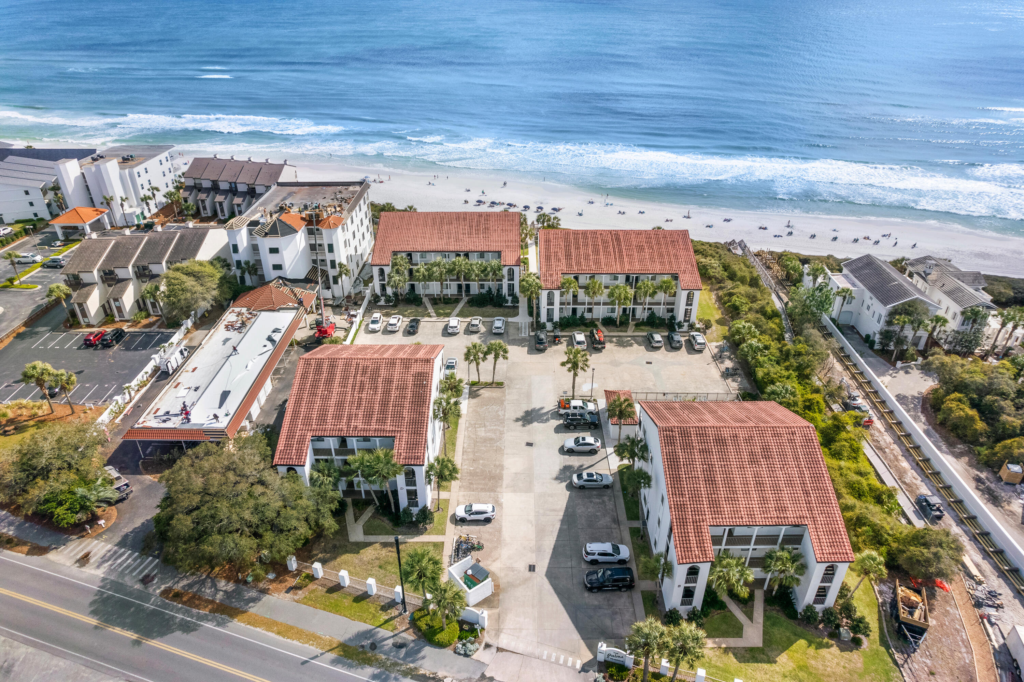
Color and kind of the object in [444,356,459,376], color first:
white car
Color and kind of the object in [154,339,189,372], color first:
white van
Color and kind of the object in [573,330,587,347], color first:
white car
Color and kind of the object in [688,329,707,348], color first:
gray car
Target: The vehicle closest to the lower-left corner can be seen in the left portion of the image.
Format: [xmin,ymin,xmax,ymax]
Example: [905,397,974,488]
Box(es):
[95,470,124,505]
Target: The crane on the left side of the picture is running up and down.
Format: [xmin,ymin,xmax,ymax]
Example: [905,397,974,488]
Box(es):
[302,207,350,340]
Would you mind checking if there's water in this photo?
Yes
